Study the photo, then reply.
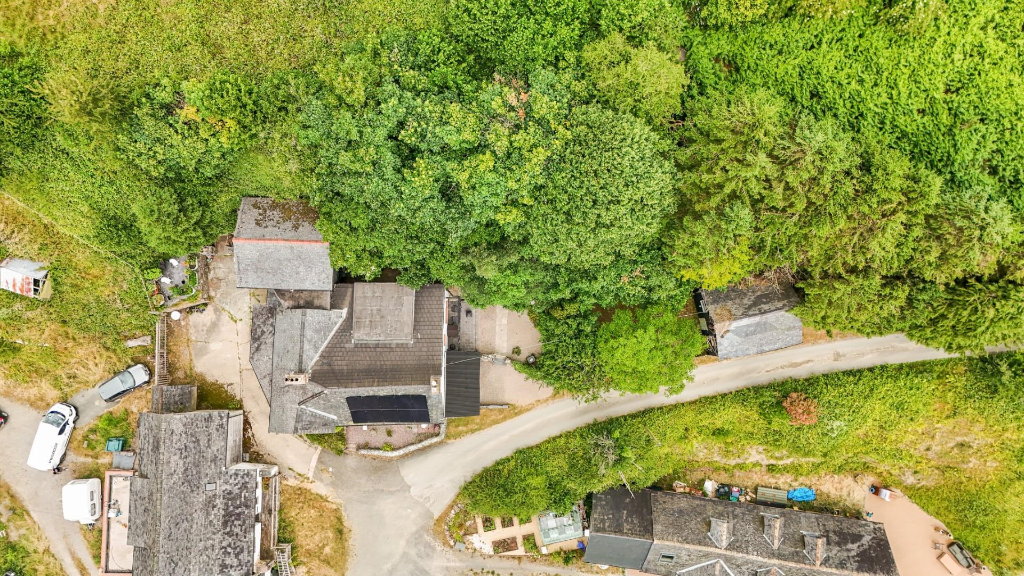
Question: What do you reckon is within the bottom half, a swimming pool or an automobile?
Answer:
automobile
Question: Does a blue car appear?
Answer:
No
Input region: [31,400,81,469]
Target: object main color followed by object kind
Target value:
white van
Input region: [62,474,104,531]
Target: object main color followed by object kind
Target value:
white camper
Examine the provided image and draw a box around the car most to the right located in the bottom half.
[95,360,154,406]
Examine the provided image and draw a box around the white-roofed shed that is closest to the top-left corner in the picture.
[0,258,52,300]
